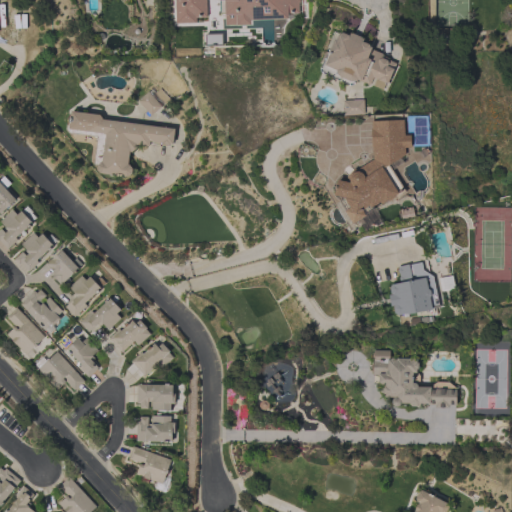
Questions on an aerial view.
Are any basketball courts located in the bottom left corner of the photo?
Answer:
No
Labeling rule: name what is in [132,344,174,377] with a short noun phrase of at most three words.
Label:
house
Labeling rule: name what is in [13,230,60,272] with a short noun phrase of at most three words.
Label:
house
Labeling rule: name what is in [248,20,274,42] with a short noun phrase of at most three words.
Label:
swimming pool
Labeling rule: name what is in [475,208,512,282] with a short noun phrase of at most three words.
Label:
tennis court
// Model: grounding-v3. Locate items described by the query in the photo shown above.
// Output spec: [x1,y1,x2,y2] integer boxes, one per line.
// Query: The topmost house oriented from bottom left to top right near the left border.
[0,206,36,249]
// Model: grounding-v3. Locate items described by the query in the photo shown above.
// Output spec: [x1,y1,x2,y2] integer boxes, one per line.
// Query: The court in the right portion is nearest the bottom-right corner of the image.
[476,342,510,414]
